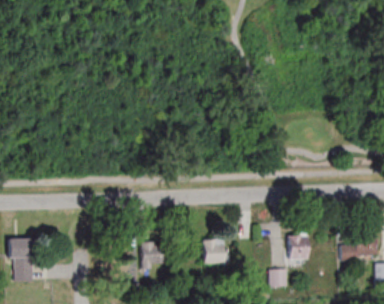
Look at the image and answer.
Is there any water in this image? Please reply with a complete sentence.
No, the scene doesn't show any water.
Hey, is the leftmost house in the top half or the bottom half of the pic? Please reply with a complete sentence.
The leftmost house sits in the bottom half of the picture.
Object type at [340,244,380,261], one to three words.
house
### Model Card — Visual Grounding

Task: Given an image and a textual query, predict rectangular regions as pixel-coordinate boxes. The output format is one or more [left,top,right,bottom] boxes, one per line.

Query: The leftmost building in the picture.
[10,238,32,282]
